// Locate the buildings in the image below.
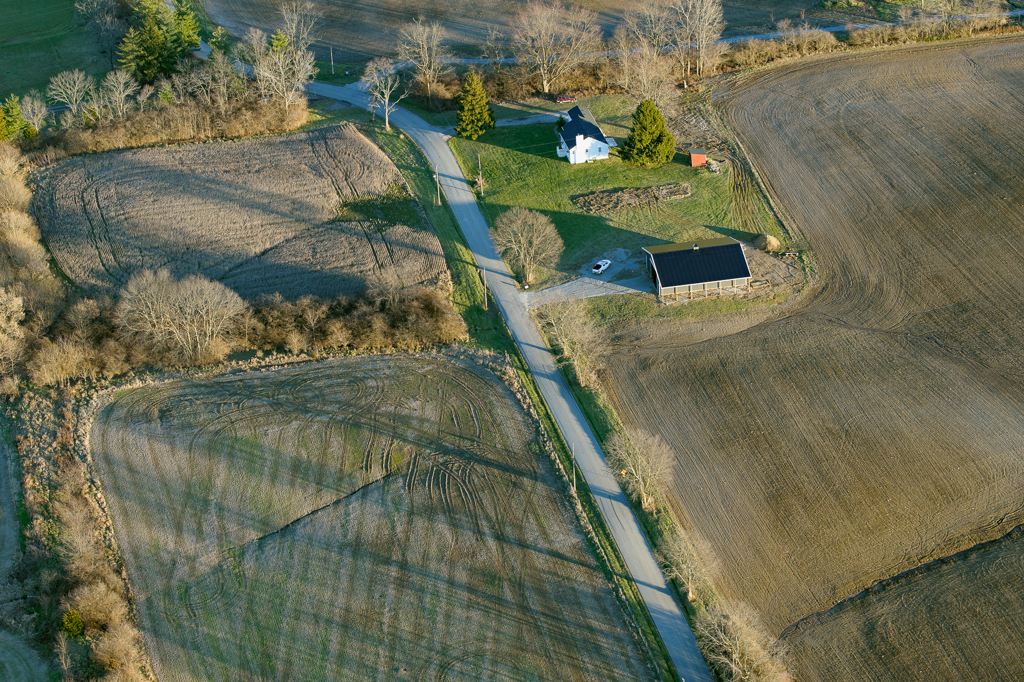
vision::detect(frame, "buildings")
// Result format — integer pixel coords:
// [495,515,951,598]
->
[639,239,753,302]
[687,146,708,167]
[554,103,611,164]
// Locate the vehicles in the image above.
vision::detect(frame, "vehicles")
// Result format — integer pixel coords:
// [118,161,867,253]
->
[556,94,577,104]
[589,259,614,273]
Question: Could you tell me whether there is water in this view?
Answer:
No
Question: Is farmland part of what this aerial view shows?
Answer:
Yes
